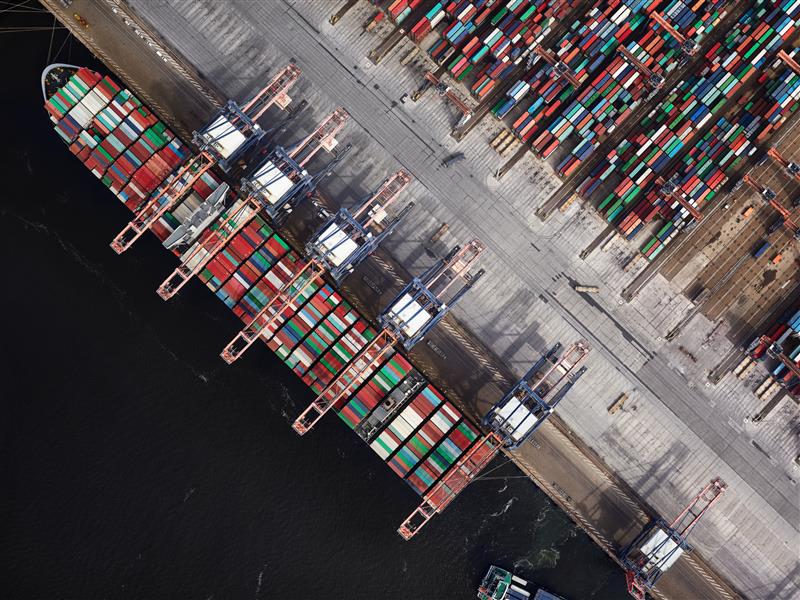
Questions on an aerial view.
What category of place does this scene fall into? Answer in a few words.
port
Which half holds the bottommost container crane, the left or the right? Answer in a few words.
right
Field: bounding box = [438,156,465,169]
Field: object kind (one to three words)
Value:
vehicle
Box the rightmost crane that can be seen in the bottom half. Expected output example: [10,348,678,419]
[738,327,800,394]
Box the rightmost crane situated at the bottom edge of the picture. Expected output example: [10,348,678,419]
[610,470,737,600]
